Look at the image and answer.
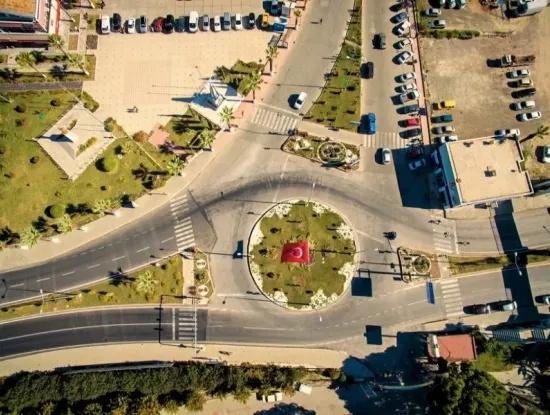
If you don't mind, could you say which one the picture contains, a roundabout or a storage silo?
roundabout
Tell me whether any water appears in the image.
No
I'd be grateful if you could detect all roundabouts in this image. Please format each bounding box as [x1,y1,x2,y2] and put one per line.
[248,201,356,311]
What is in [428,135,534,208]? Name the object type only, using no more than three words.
building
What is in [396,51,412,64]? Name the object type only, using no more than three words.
vehicle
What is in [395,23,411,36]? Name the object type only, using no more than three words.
vehicle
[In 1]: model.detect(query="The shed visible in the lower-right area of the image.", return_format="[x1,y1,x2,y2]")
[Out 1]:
[427,331,476,360]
